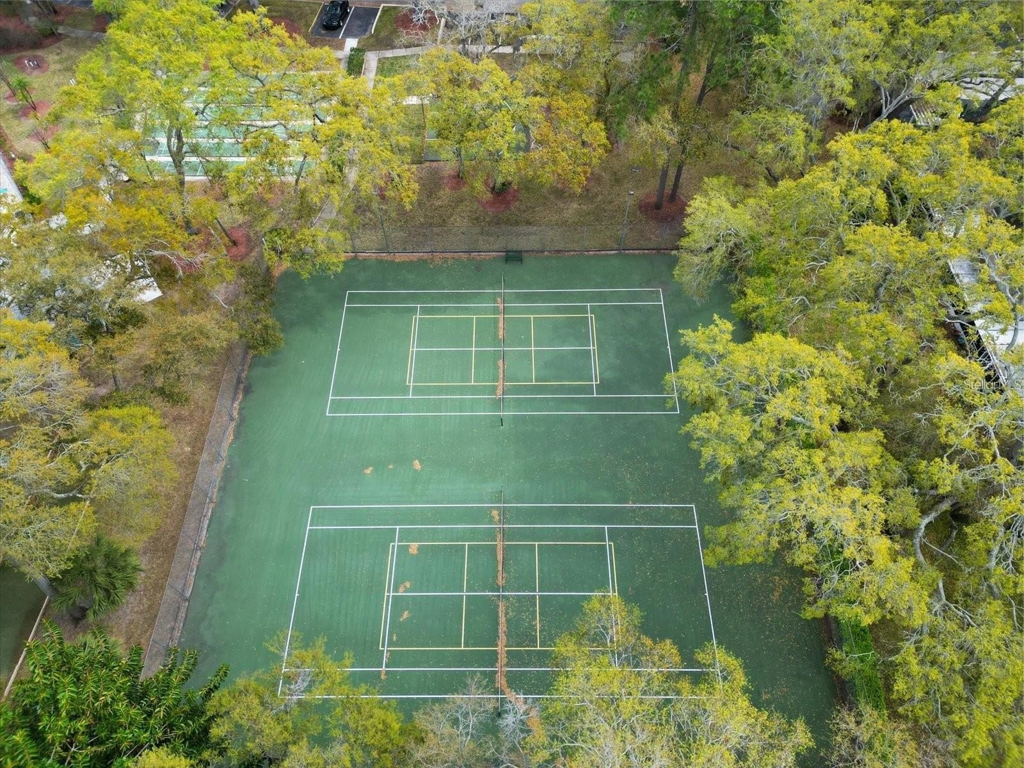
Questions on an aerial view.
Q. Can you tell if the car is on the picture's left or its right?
left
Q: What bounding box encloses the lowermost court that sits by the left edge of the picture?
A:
[0,527,79,704]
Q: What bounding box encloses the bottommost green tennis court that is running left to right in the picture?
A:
[253,498,748,706]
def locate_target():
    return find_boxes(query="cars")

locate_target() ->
[317,0,342,29]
